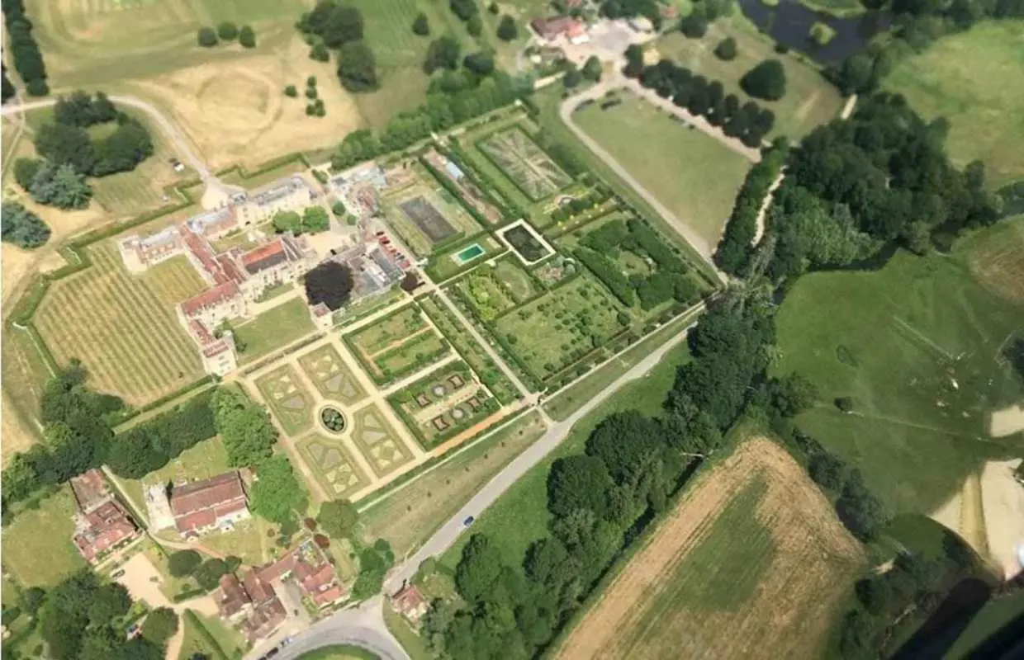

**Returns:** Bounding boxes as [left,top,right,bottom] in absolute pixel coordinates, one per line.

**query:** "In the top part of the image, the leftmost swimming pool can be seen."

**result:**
[455,242,486,264]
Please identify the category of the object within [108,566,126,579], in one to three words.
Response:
vehicle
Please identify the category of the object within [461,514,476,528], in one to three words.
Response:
car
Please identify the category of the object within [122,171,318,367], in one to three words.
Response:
house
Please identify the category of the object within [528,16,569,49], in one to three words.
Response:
barn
